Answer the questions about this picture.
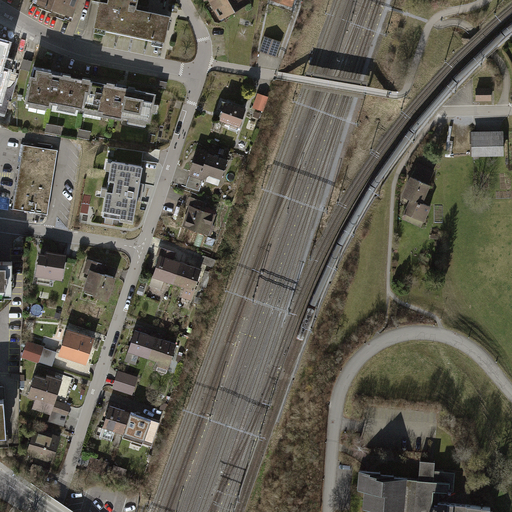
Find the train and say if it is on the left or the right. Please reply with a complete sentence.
You can find the train on the right side of the picture.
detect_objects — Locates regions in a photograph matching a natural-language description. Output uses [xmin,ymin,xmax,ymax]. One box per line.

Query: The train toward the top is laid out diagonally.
[298,20,512,338]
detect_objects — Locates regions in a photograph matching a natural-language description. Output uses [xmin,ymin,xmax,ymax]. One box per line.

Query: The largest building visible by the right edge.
[471,130,504,158]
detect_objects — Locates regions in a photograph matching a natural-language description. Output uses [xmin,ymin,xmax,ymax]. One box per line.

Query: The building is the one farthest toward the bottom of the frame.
[357,473,406,512]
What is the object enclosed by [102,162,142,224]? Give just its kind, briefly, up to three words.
building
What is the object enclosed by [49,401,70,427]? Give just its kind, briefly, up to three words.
house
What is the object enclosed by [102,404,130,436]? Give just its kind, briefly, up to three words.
house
